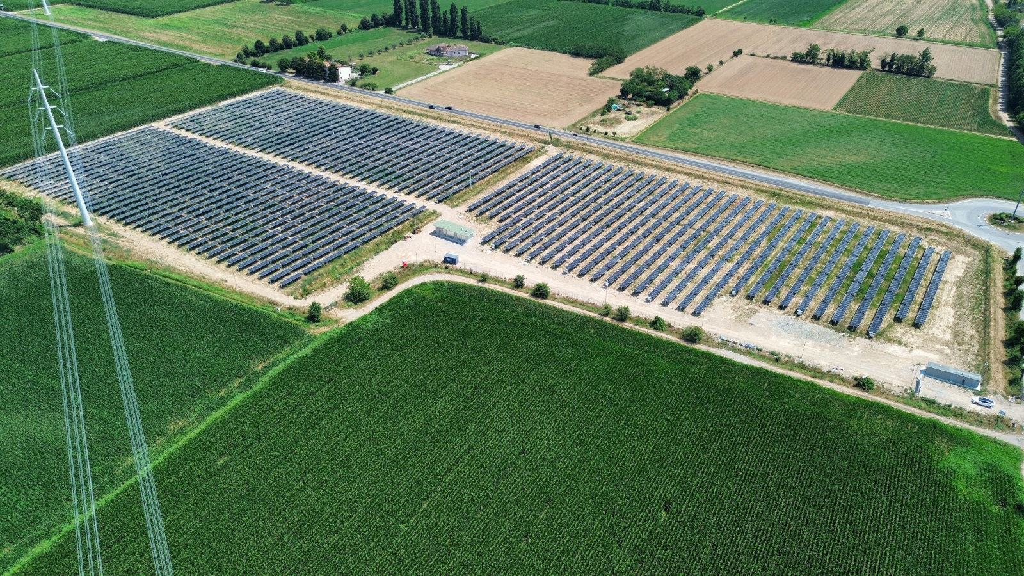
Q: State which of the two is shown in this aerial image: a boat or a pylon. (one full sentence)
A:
There is a pylon in the scene.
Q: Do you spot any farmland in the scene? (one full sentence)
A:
Yes, the picture does contain farmland.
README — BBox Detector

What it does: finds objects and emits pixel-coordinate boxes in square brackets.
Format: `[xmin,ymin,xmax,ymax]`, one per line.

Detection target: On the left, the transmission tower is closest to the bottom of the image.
[28,69,94,227]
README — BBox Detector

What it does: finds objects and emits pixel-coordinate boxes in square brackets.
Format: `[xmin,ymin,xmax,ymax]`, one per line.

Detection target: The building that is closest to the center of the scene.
[433,219,477,245]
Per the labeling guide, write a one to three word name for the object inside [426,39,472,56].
house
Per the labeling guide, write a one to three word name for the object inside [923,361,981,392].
building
